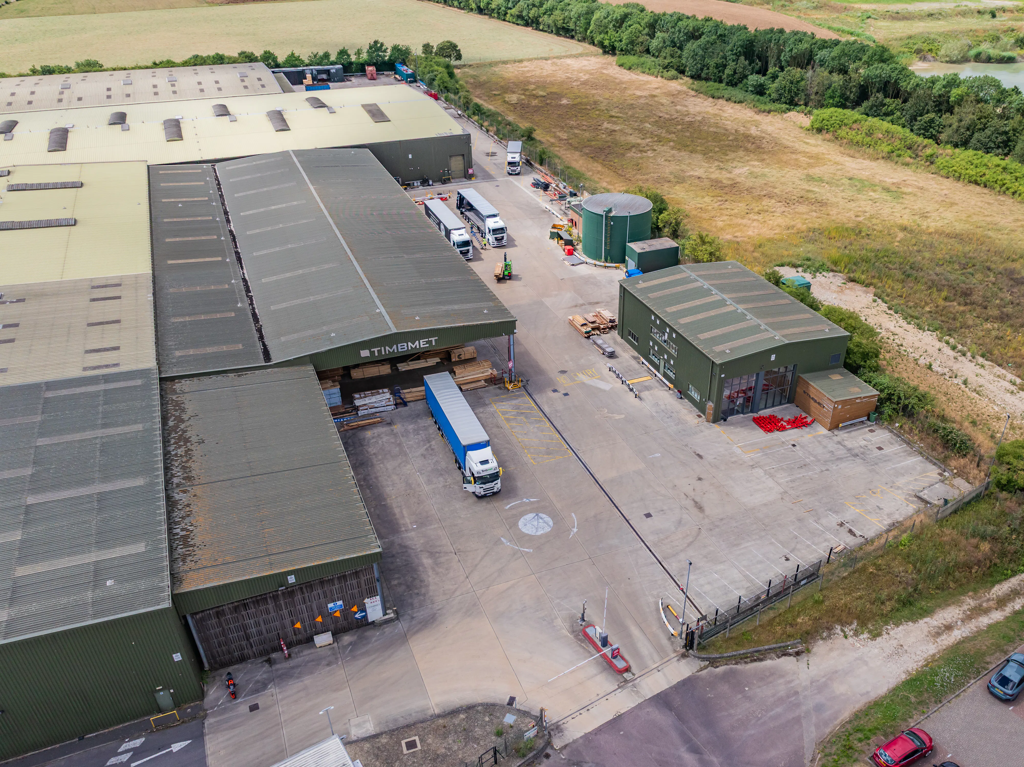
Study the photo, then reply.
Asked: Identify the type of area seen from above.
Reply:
industrial area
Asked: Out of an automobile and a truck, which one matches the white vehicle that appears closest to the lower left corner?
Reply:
truck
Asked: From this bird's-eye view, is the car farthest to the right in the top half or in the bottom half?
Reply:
bottom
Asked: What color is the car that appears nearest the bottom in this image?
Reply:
red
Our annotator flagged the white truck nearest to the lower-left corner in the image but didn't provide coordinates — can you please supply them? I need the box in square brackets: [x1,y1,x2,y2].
[424,371,503,495]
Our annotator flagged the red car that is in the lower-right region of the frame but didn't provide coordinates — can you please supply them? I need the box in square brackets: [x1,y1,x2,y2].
[870,726,937,767]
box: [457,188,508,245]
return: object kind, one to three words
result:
truck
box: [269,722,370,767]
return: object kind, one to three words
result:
building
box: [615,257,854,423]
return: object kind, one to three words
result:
building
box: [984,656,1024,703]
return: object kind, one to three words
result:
car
